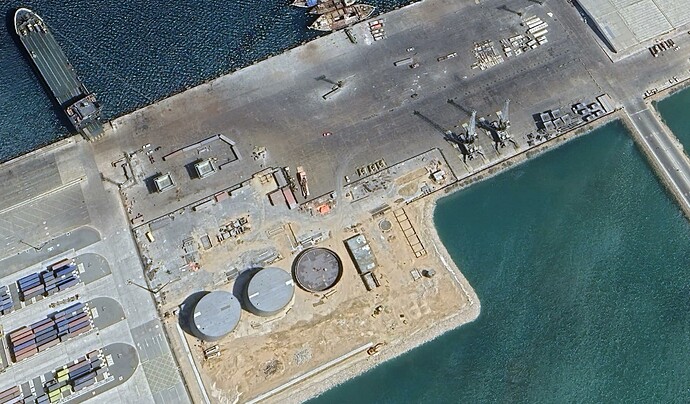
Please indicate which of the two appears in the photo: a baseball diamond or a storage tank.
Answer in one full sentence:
There is a storage tank in the scene.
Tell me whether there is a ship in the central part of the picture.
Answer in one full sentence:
No, I can find no ship in the central part of the picture.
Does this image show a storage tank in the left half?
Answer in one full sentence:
Yes, you'll find a storage tank in the left half.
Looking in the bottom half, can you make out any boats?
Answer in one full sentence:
No, the scene shows no boat in the bottom half.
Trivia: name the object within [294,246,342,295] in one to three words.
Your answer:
storage tank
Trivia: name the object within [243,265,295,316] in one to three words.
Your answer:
storage tank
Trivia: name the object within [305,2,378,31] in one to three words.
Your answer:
boat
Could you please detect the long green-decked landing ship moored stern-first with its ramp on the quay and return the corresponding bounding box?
[15,7,152,143]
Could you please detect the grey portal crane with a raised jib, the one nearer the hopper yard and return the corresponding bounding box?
[484,99,522,157]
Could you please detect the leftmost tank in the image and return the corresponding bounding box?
[189,290,241,341]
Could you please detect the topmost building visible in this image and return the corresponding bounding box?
[571,0,690,55]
